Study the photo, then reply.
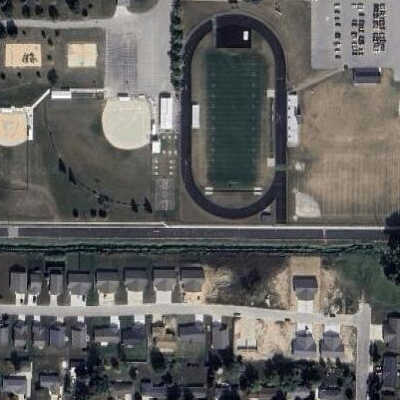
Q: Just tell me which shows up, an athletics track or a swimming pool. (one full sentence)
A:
I can see an athletics track in this picture.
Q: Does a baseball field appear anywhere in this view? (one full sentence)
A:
Yes, I can see a baseball field in this picture.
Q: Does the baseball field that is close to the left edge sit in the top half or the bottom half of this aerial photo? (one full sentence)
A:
The baseball field that is close to the left edge is in the top half of the image.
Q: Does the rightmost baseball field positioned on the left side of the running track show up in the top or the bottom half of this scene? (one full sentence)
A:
The rightmost baseball field positioned on the left side of the running track is in the top half of the image.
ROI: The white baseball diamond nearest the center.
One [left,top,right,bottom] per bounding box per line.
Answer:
[101,97,152,150]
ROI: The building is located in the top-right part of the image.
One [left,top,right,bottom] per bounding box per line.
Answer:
[351,68,381,83]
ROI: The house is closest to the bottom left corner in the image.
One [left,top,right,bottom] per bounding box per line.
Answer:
[2,379,26,394]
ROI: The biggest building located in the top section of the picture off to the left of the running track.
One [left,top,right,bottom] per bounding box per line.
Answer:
[158,100,172,132]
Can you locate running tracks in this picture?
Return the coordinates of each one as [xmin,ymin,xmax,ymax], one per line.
[179,11,288,222]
